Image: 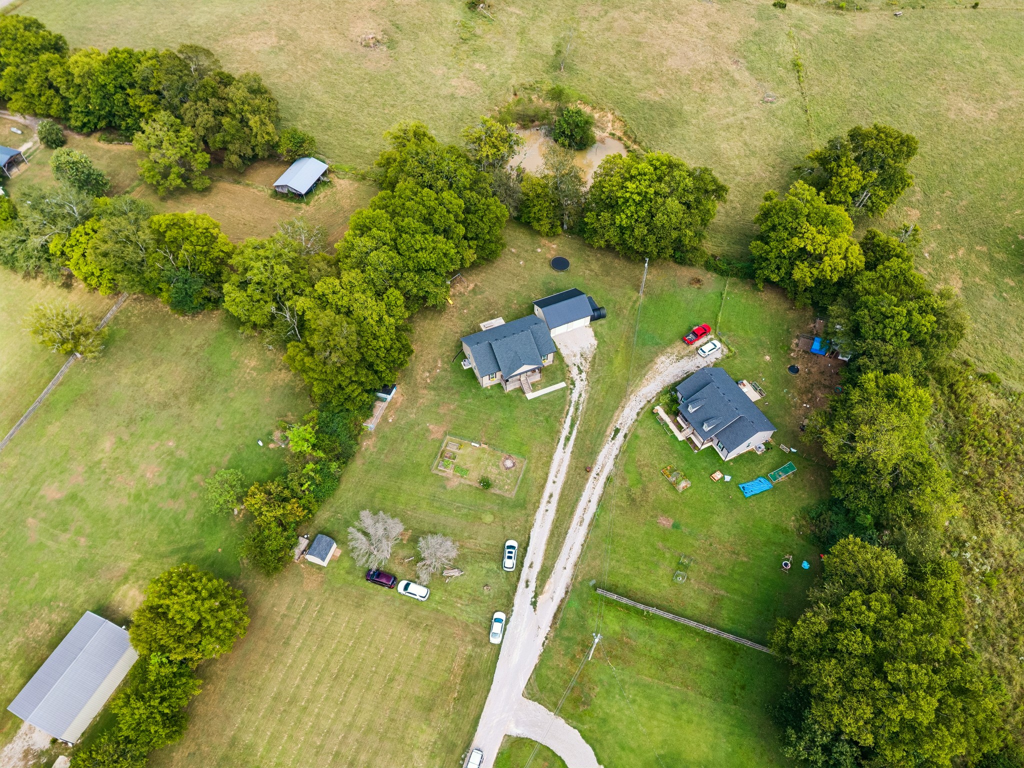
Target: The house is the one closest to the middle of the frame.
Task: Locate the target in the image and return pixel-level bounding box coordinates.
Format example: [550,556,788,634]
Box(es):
[461,315,557,394]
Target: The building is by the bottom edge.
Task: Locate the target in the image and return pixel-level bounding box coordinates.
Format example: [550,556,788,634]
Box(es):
[7,608,139,742]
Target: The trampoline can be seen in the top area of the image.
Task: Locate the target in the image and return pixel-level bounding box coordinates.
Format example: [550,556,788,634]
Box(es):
[550,257,570,274]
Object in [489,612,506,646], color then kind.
white car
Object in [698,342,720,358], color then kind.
white car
